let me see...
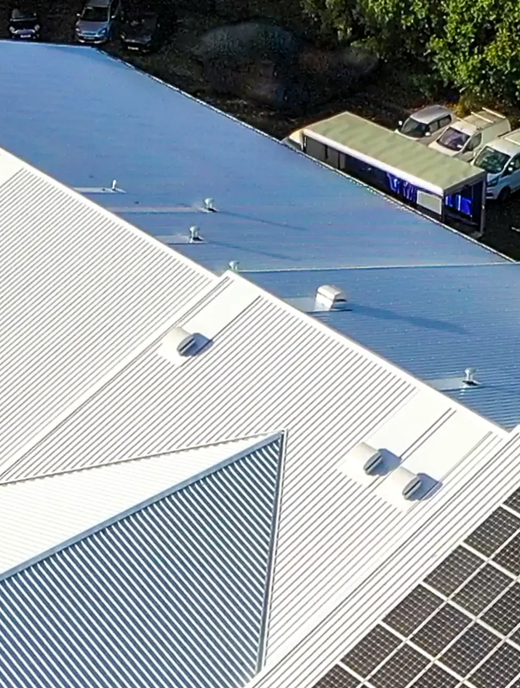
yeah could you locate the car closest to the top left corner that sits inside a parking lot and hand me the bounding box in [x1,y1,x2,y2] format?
[4,0,43,36]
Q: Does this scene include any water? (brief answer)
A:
No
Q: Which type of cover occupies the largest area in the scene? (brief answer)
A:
buildings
